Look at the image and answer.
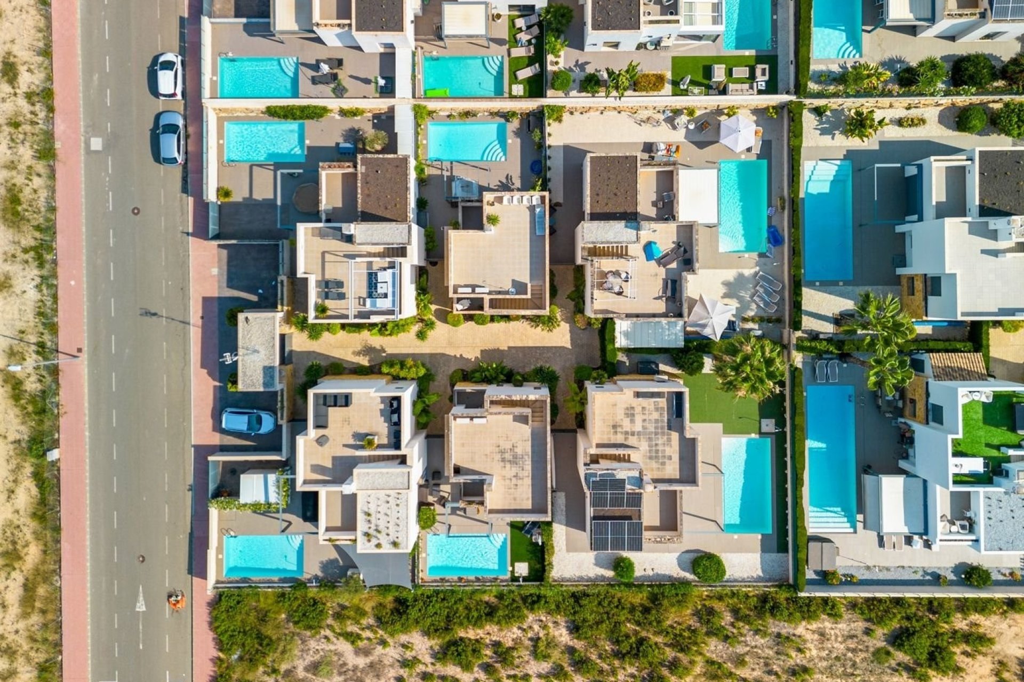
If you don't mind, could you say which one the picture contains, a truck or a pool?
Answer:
pool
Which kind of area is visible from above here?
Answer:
residential area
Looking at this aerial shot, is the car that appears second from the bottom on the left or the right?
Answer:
left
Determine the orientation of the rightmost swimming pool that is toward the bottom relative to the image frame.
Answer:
up and down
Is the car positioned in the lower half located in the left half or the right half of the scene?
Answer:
left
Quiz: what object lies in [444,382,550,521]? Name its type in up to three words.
house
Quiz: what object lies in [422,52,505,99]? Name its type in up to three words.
swimming pool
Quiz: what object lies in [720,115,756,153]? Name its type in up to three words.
umbrella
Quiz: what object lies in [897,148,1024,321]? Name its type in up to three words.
house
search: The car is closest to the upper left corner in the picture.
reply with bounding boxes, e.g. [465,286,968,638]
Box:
[157,53,185,100]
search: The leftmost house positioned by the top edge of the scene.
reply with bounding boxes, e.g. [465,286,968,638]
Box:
[312,0,414,51]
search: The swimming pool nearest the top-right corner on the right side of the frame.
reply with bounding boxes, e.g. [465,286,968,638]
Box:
[811,0,864,60]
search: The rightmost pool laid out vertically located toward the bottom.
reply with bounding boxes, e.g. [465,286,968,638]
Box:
[806,384,866,535]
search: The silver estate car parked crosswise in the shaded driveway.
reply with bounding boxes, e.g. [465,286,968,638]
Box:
[221,408,276,435]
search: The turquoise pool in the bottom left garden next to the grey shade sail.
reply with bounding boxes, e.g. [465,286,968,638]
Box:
[222,530,305,580]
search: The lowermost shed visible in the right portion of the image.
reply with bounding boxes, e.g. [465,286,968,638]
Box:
[803,535,836,569]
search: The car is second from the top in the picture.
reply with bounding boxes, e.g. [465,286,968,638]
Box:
[158,112,186,164]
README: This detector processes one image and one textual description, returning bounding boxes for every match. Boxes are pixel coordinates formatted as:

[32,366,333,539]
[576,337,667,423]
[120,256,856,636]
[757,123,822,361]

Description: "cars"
[221,408,276,435]
[158,112,186,164]
[157,53,185,100]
